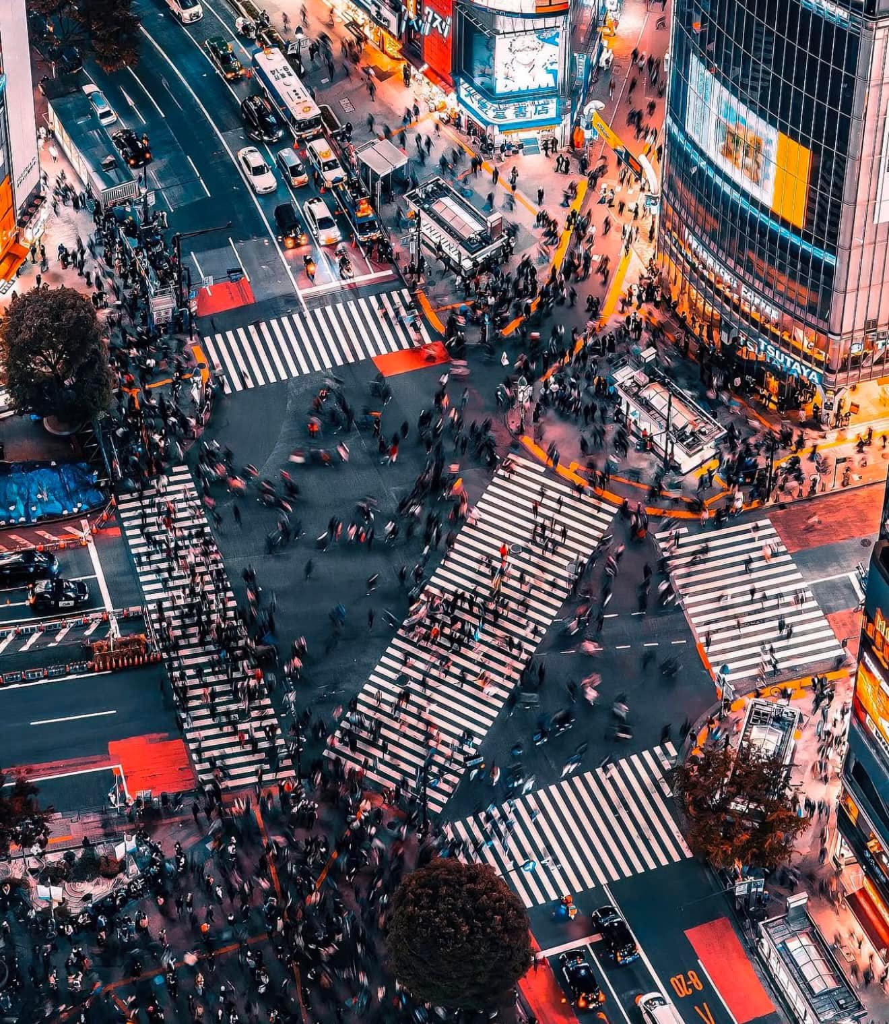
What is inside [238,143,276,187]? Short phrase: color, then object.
white car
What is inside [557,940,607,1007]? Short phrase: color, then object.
black car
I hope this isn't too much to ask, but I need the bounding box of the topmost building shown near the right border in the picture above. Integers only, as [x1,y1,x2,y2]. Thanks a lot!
[658,0,889,414]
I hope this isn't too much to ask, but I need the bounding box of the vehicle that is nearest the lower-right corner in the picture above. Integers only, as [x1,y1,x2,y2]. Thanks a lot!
[632,981,682,1024]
